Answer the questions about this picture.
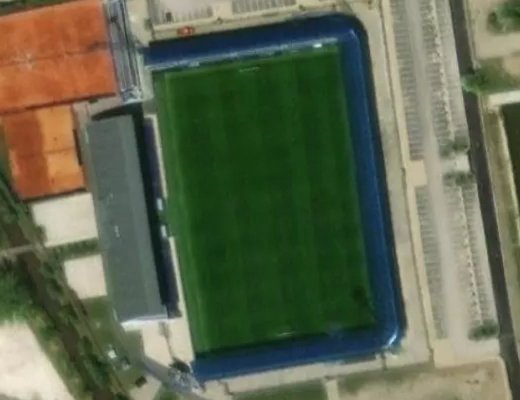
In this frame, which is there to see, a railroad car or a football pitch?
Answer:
football pitch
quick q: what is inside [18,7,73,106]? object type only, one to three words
tennis court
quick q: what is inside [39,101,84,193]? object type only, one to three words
tennis court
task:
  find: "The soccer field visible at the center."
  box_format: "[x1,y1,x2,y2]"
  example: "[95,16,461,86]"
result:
[150,44,375,356]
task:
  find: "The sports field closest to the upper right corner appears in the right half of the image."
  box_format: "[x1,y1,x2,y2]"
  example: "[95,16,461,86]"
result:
[494,93,520,288]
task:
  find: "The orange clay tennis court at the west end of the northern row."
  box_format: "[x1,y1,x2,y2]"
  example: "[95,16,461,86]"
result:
[0,13,30,110]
